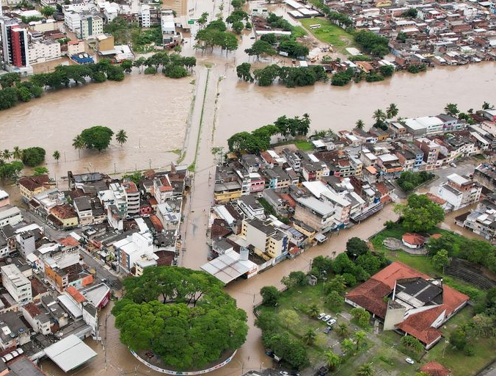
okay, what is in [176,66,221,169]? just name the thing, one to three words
bridge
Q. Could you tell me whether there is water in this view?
Yes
